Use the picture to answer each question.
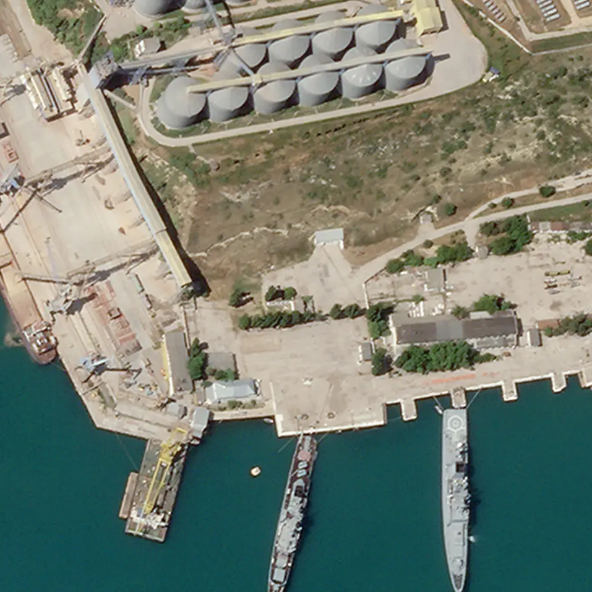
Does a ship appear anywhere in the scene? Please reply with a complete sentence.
Yes, this view includes a ship.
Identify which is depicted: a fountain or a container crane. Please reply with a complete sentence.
The one in the frame is a container crane.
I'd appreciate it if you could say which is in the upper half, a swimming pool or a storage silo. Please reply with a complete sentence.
It is a storage silo that can be seen in the upper half.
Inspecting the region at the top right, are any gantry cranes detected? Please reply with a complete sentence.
No, looking at the top right, there is no gantry crane.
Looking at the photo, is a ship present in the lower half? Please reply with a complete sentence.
Yes, the scene does show a ship in the lower half.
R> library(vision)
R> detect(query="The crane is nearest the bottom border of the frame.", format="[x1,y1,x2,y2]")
[74,353,139,381]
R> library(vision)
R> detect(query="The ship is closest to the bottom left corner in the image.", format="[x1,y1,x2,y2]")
[124,428,186,544]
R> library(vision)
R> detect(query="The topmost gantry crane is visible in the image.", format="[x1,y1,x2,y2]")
[0,58,78,106]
